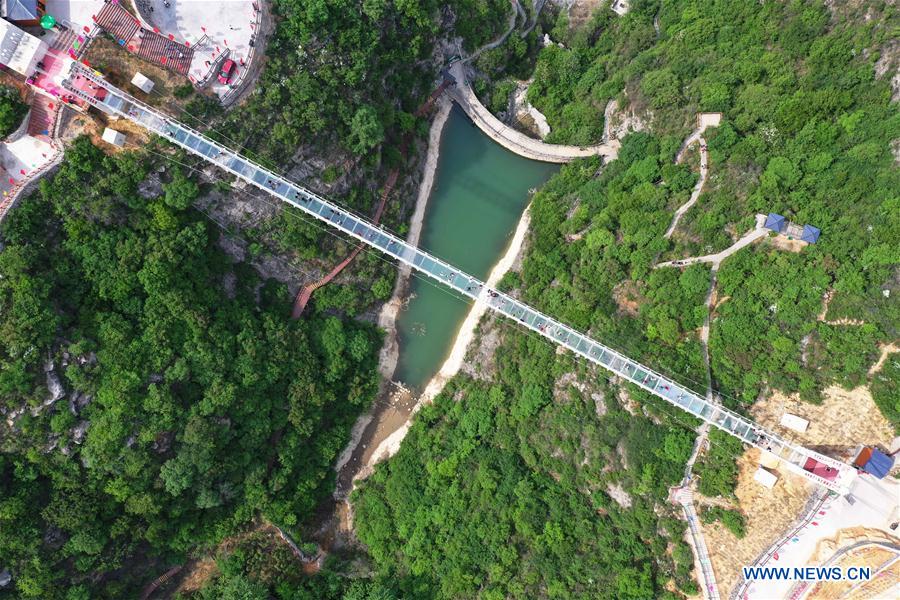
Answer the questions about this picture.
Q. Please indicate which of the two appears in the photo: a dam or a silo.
dam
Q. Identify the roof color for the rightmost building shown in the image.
blue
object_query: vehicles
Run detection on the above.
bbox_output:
[218,59,236,86]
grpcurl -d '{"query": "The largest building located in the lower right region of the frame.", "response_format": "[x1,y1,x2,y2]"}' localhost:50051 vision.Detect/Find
[856,446,895,481]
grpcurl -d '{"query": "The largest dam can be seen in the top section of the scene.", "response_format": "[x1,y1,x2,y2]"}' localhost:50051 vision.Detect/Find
[445,62,610,167]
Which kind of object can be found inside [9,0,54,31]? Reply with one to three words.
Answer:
building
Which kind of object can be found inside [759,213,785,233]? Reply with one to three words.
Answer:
building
